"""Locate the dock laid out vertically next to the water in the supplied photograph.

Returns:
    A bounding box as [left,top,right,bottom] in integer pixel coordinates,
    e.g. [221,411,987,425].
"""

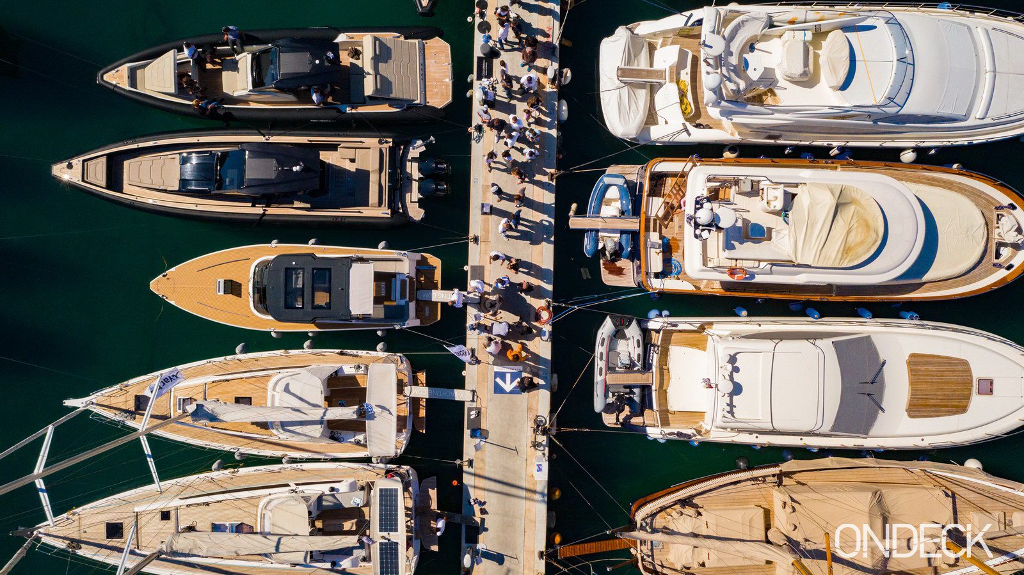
[461,0,560,575]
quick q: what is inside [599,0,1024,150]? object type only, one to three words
boat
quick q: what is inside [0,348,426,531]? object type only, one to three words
boat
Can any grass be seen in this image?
No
